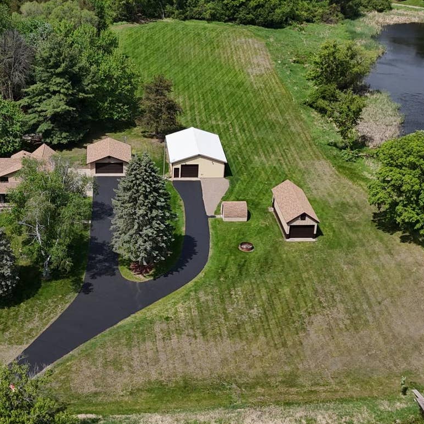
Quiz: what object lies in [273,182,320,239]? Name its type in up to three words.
shed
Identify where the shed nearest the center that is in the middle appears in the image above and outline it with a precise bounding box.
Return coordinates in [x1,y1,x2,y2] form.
[222,204,248,221]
